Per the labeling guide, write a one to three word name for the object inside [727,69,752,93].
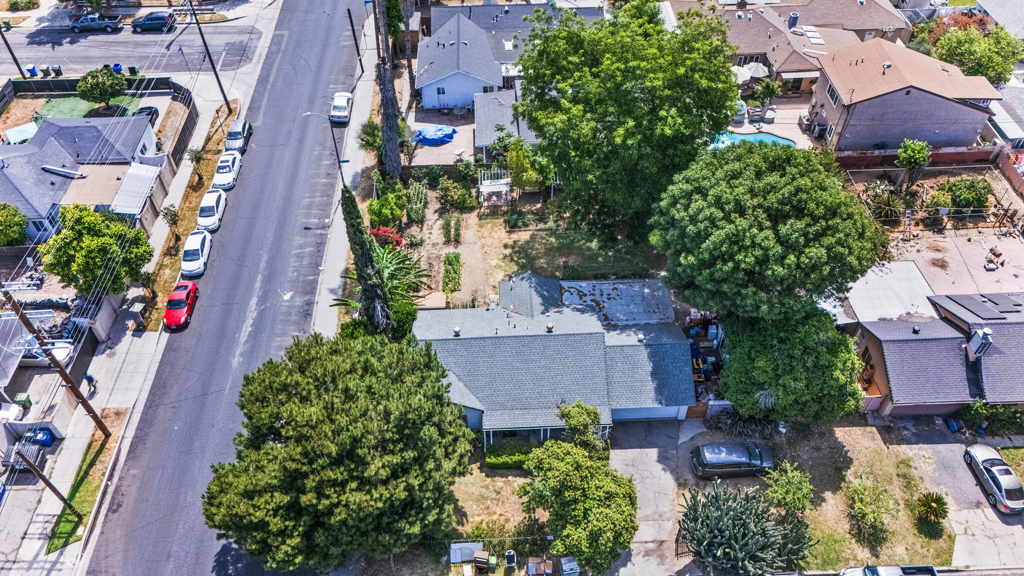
umbrella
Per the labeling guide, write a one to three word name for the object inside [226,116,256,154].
car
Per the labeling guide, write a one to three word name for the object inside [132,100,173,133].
car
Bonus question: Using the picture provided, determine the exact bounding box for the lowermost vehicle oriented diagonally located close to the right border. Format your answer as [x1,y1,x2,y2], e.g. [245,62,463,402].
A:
[957,447,1024,518]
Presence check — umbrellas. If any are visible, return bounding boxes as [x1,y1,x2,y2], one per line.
[727,69,752,93]
[745,62,771,83]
